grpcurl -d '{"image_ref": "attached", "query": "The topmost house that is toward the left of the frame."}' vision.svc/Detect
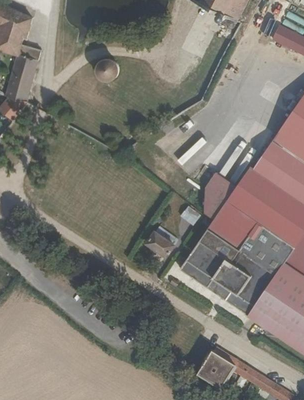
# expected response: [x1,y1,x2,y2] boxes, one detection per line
[0,0,32,25]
